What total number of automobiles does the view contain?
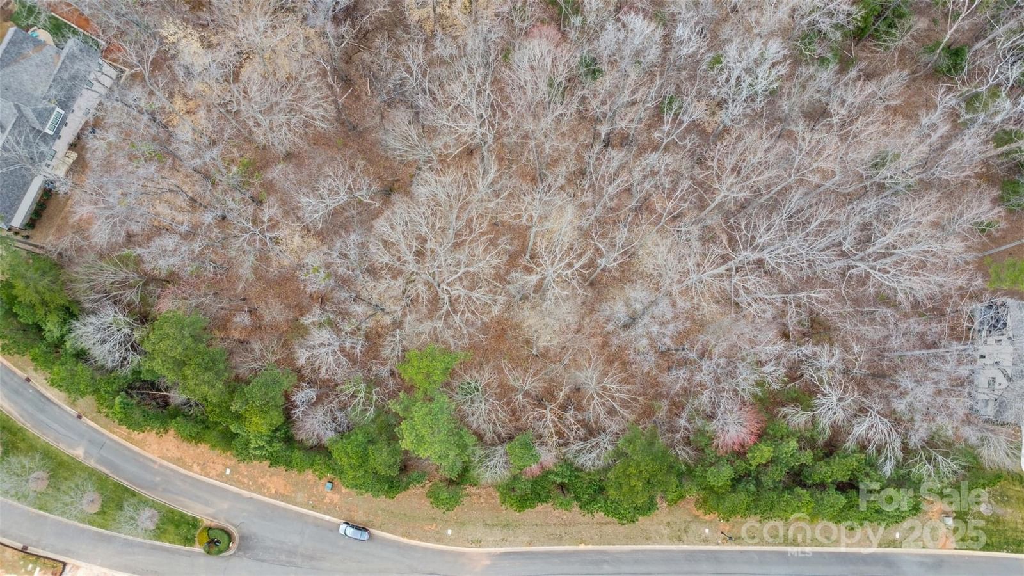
one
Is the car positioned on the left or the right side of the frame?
left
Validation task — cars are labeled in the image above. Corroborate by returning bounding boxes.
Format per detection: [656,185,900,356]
[337,523,370,544]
